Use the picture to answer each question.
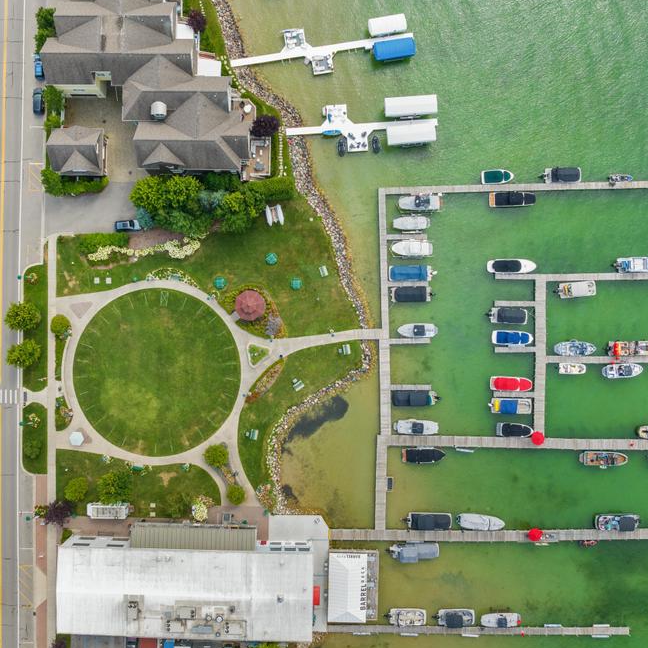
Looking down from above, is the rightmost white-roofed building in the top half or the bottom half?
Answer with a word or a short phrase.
bottom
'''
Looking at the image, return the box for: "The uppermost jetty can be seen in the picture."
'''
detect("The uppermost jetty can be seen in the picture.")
[230,28,415,77]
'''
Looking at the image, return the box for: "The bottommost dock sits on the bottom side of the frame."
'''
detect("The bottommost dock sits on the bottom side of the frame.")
[327,623,631,637]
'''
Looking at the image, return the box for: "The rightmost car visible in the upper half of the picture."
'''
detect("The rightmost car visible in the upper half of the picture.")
[114,219,142,232]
